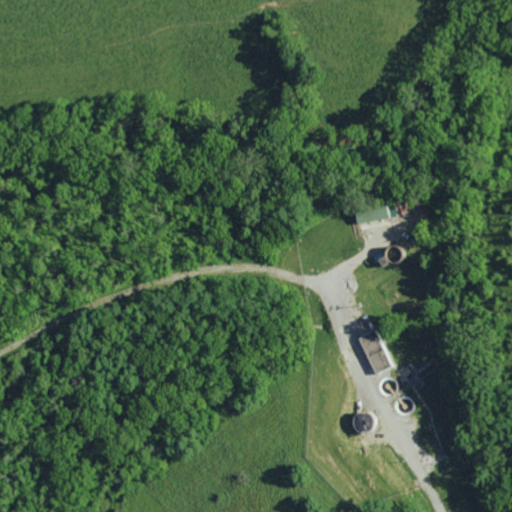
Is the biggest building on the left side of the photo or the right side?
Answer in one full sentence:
The biggest building appears in the right half of the scene.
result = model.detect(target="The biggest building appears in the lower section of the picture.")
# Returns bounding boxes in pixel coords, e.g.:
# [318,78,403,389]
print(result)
[359,330,393,374]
